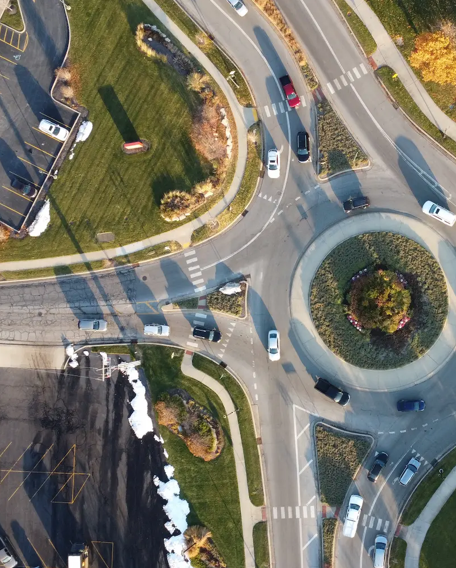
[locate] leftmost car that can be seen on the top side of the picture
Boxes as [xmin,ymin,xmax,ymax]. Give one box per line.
[9,177,40,198]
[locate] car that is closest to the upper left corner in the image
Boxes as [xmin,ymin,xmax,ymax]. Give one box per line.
[37,118,72,141]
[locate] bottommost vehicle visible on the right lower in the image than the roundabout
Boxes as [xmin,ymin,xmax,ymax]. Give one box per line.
[373,533,389,568]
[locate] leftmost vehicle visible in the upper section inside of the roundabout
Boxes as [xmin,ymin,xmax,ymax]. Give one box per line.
[342,196,371,212]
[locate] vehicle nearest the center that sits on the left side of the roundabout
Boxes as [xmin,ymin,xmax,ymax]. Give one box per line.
[191,325,224,343]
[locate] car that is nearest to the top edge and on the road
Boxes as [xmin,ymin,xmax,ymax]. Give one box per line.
[226,0,249,19]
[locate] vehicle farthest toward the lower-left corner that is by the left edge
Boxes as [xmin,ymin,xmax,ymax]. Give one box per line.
[0,533,19,568]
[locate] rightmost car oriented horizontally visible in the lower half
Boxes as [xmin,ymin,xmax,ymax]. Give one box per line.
[396,399,425,413]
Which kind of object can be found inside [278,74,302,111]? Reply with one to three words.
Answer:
vehicle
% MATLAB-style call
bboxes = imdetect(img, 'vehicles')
[366,450,389,483]
[68,535,91,568]
[421,202,456,227]
[295,132,311,164]
[37,118,72,141]
[313,377,352,406]
[278,74,302,111]
[266,149,282,180]
[142,322,171,337]
[396,399,425,413]
[226,0,249,19]
[373,533,389,568]
[396,454,421,487]
[9,177,40,198]
[342,196,371,212]
[266,330,282,361]
[0,533,19,568]
[191,325,224,343]
[78,317,108,333]
[344,492,362,538]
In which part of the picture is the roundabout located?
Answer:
right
